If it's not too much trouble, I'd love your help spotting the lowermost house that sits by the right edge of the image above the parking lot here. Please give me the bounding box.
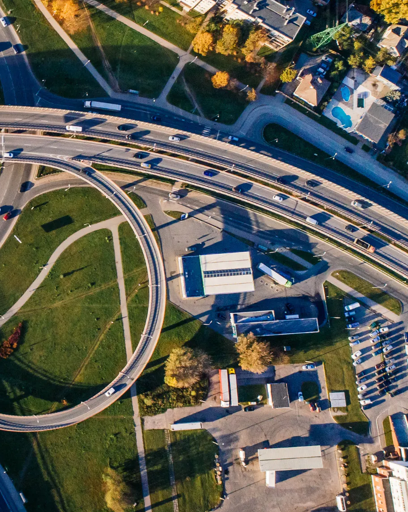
[349,101,395,145]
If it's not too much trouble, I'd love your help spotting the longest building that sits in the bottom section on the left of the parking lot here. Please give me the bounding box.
[226,310,320,336]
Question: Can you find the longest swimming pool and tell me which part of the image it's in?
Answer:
top right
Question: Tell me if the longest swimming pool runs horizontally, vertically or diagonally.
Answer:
diagonally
